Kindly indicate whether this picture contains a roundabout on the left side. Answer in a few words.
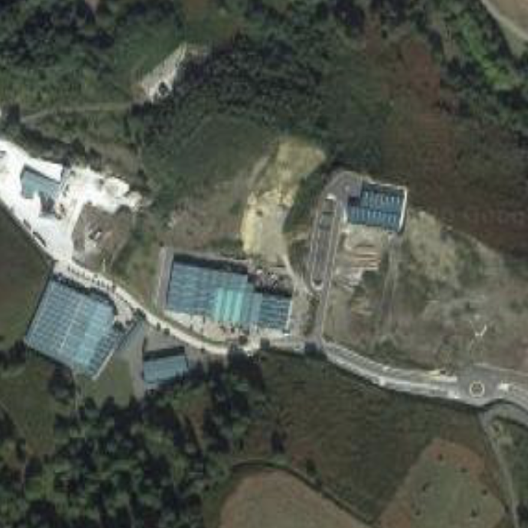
No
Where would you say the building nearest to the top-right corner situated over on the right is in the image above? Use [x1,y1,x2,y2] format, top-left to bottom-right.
[343,184,408,232]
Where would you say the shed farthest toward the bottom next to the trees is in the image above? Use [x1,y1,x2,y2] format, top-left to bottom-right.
[144,355,188,385]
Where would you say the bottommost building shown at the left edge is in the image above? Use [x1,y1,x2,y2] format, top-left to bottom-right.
[25,280,119,379]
